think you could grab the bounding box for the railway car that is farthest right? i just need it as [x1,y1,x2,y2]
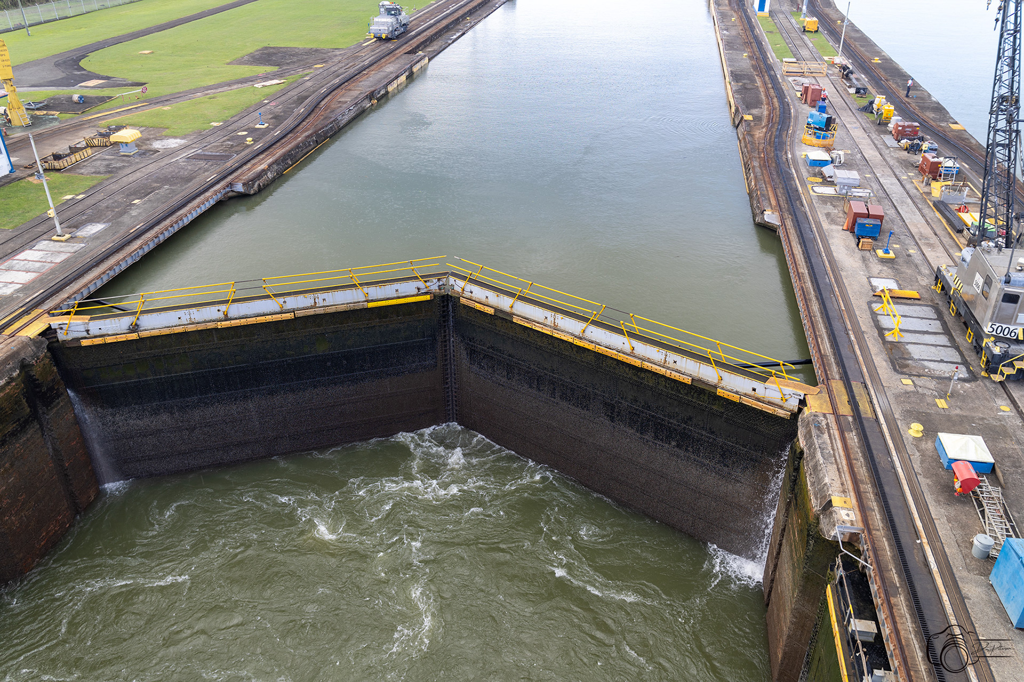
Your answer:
[936,244,1024,387]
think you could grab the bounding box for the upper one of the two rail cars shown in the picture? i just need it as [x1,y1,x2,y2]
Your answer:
[368,0,412,37]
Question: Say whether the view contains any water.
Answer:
Yes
